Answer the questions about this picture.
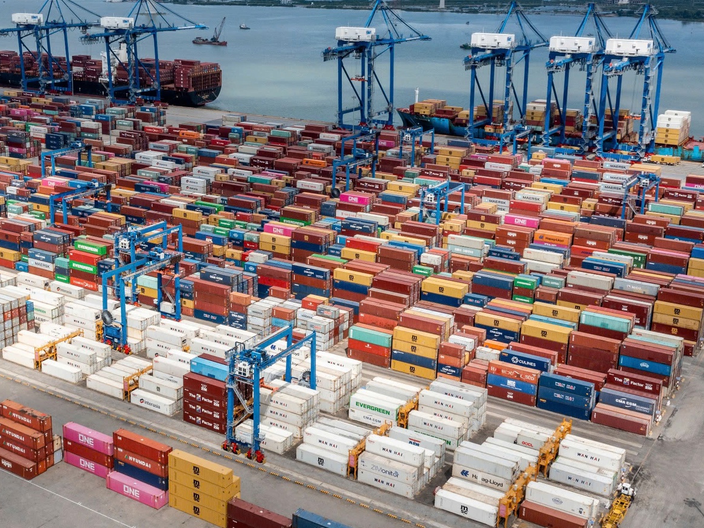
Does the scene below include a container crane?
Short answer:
Yes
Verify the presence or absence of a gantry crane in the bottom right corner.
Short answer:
No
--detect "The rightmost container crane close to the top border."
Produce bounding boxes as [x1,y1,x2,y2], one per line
[592,1,680,167]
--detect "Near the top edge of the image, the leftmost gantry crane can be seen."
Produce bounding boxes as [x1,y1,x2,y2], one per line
[0,0,101,95]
